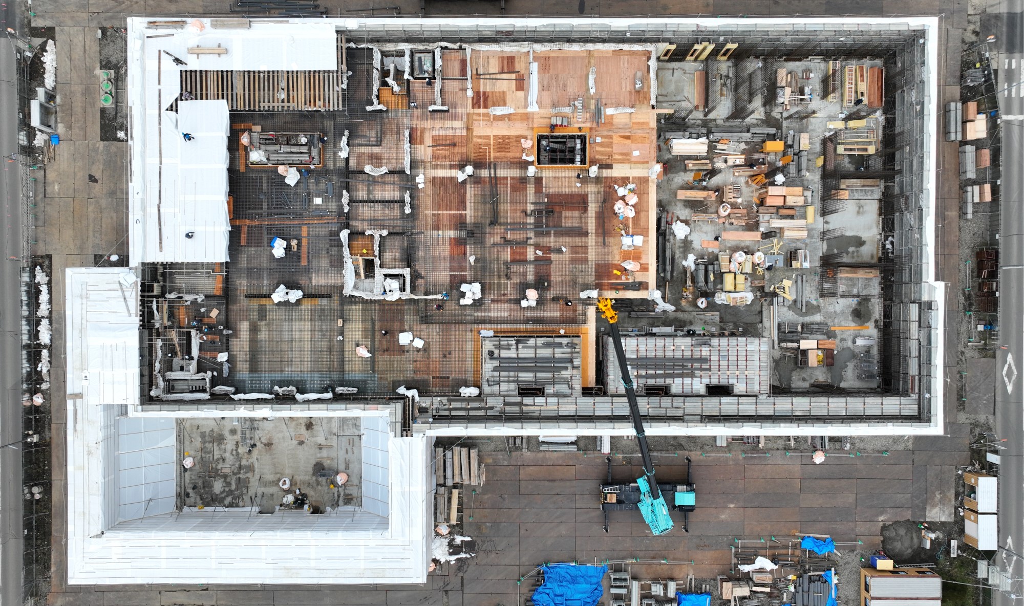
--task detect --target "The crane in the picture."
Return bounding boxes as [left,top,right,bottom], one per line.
[580,295,696,536]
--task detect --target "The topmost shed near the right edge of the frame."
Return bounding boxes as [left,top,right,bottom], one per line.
[964,472,997,512]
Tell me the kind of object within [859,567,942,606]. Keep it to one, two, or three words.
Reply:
building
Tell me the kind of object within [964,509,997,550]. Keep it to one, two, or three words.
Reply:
shed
